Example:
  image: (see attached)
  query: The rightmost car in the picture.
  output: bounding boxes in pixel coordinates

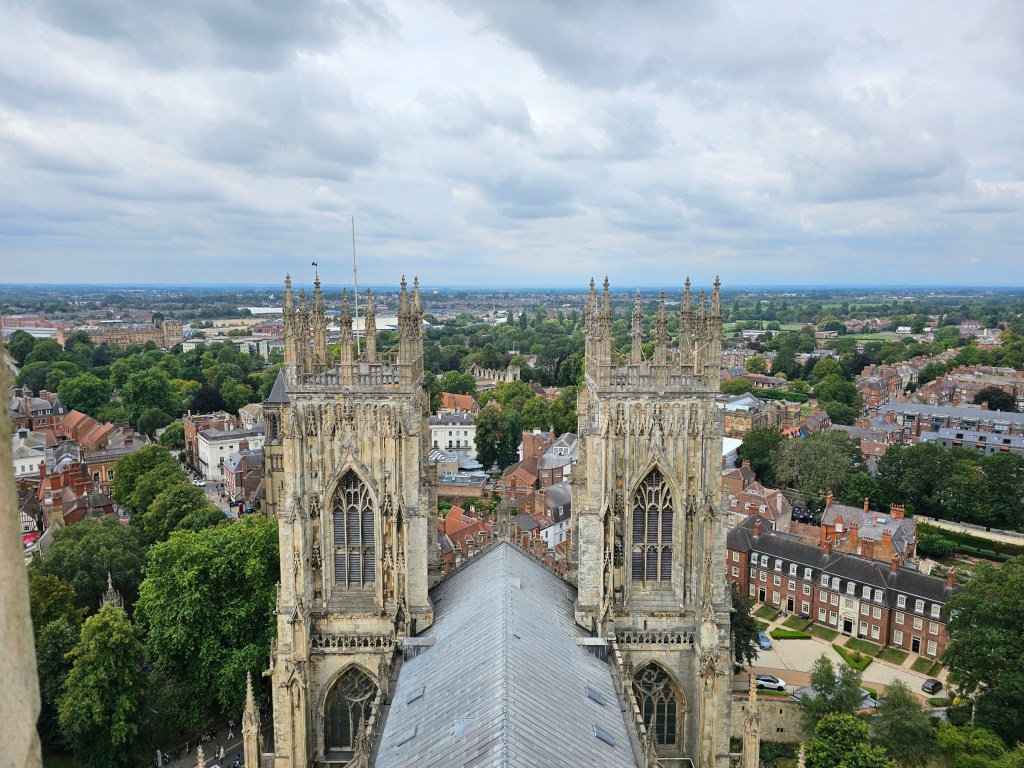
[921,677,944,693]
